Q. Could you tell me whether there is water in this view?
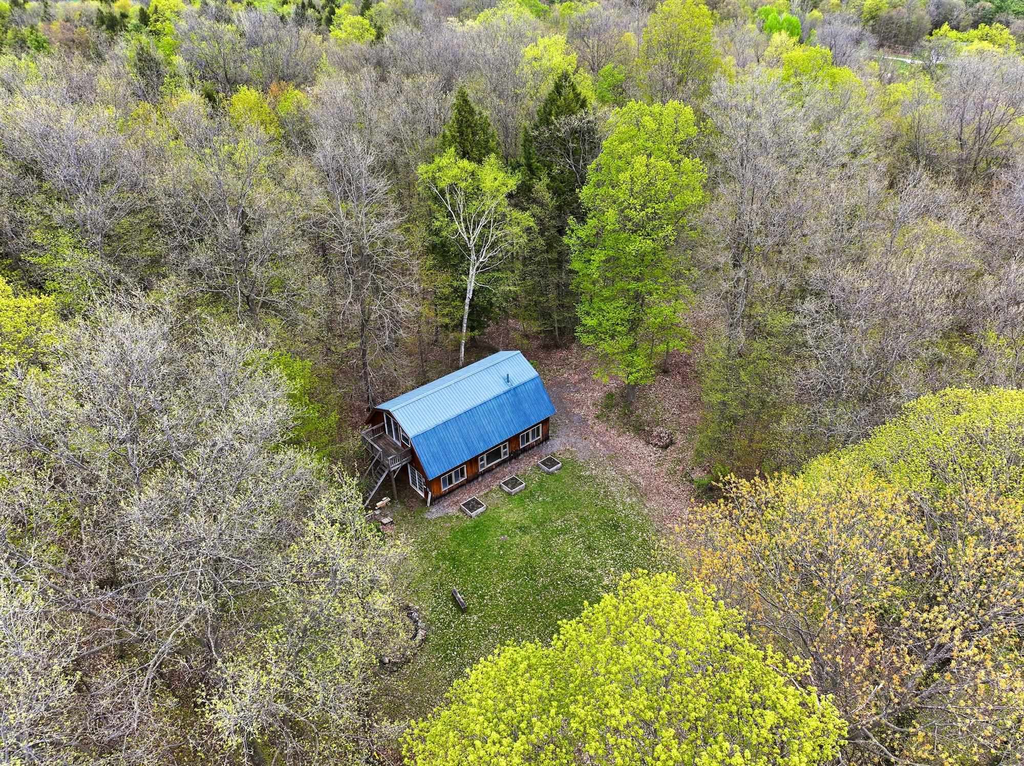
No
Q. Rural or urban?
rural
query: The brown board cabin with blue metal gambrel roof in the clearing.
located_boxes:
[365,351,556,506]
